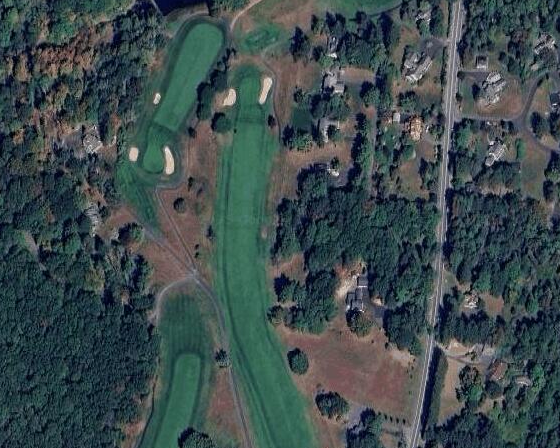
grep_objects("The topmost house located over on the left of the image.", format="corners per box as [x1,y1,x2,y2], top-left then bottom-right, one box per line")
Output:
[80,130,104,153]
